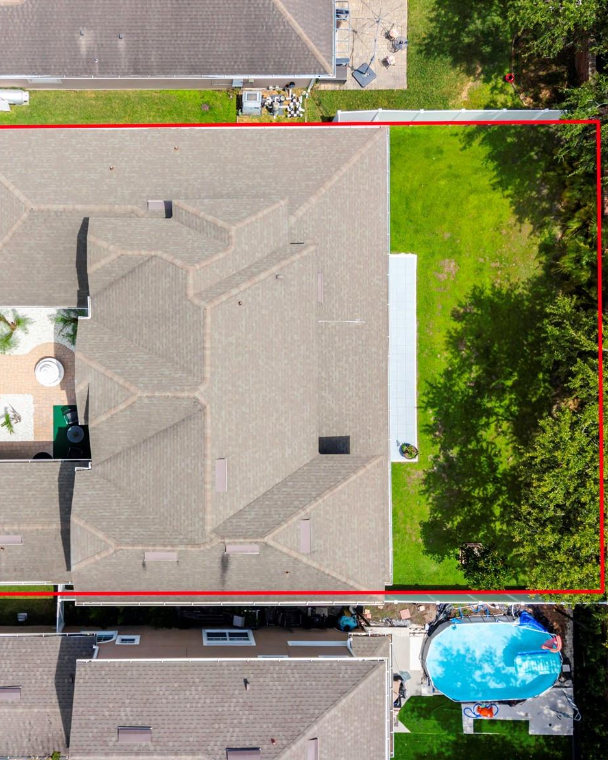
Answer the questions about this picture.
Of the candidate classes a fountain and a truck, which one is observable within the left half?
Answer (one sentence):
What appears within the left half is a fountain.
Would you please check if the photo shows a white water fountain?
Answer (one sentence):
Yes, the picture does show a white water fountain.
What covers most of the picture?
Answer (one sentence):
The scene is dominated by buildings.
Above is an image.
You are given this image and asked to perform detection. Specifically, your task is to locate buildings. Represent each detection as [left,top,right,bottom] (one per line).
[0,123,396,606]
[0,625,396,760]
[0,0,336,93]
